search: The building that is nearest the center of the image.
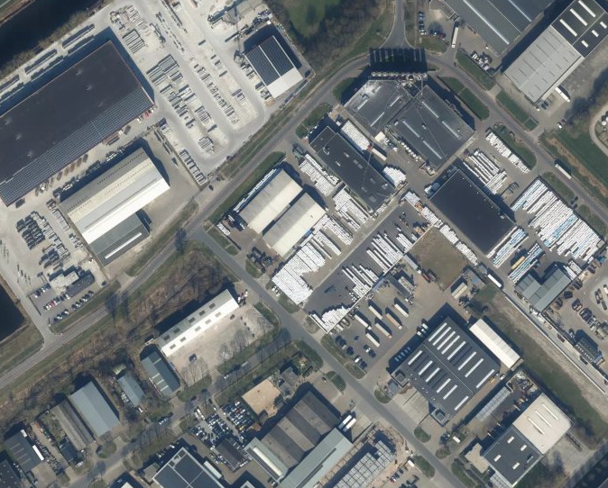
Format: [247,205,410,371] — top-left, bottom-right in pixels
[263,194,325,257]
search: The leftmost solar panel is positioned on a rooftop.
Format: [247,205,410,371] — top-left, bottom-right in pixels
[0,86,153,202]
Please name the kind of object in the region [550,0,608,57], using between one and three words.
building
